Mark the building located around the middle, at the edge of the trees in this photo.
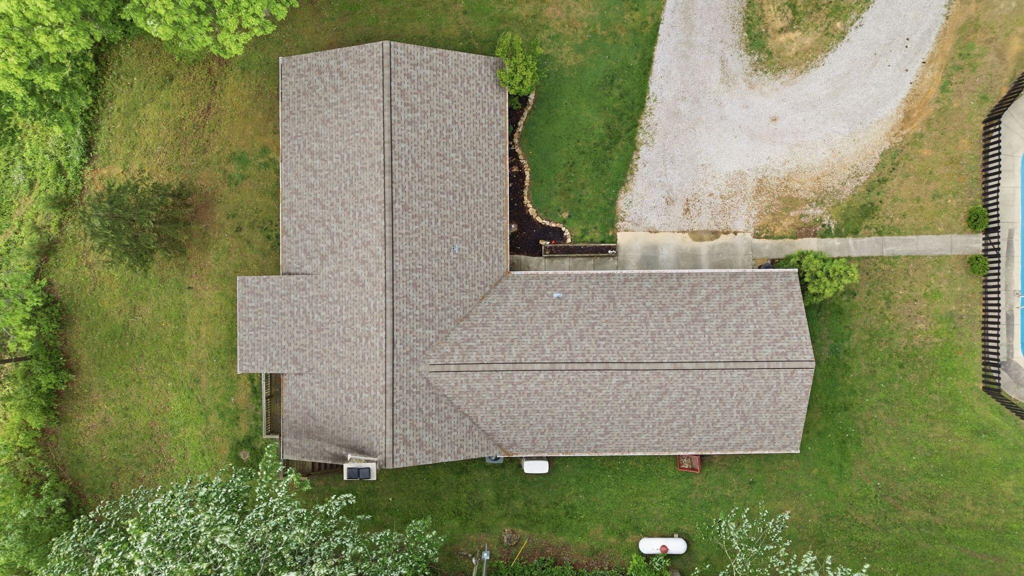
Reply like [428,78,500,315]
[235,42,814,481]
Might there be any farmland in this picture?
No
